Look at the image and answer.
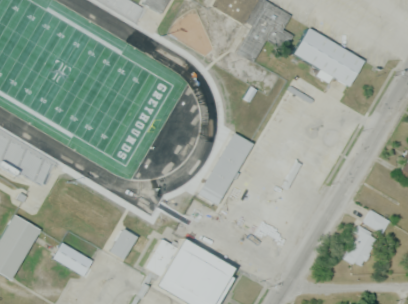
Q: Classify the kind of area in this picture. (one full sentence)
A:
This looks like a sports ground.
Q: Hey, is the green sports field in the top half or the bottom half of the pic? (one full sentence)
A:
You can find the green sports field in the top half.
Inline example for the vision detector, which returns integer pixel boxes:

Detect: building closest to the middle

[196,134,254,207]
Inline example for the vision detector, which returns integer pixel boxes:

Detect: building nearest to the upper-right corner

[292,28,365,86]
